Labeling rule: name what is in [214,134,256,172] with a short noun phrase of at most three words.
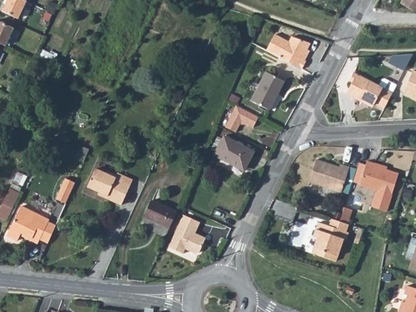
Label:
house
